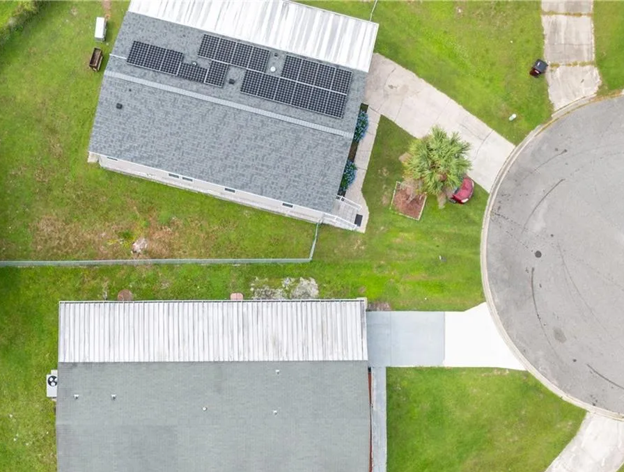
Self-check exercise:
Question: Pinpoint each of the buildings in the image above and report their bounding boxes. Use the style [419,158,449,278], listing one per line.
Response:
[56,299,372,472]
[91,0,380,222]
